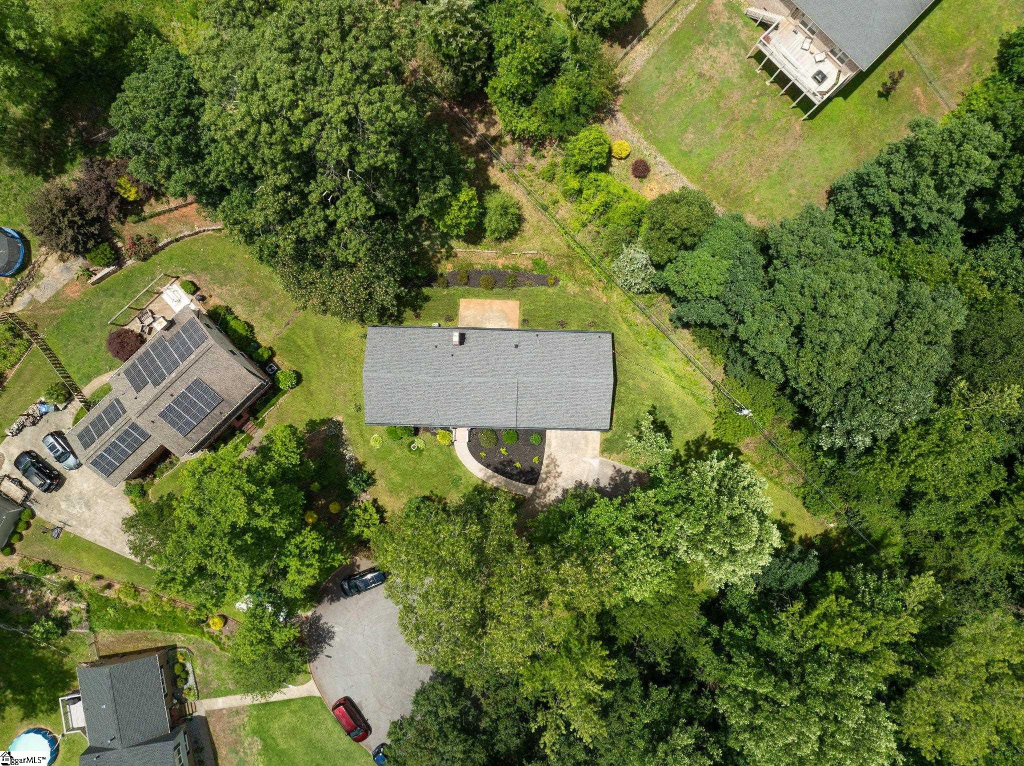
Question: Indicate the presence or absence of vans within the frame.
Yes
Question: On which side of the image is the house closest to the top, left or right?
right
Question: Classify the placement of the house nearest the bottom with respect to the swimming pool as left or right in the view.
to its right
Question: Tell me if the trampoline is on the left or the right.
left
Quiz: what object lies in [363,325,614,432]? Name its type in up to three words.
house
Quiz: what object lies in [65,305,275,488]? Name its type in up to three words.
house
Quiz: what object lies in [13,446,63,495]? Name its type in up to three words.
car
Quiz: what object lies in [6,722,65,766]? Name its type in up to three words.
swimming pool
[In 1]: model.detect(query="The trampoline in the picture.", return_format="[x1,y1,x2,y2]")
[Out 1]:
[0,227,27,276]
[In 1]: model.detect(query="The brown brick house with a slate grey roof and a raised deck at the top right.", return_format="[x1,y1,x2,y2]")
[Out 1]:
[742,0,936,93]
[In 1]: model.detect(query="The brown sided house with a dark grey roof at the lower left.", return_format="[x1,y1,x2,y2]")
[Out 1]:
[76,646,201,766]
